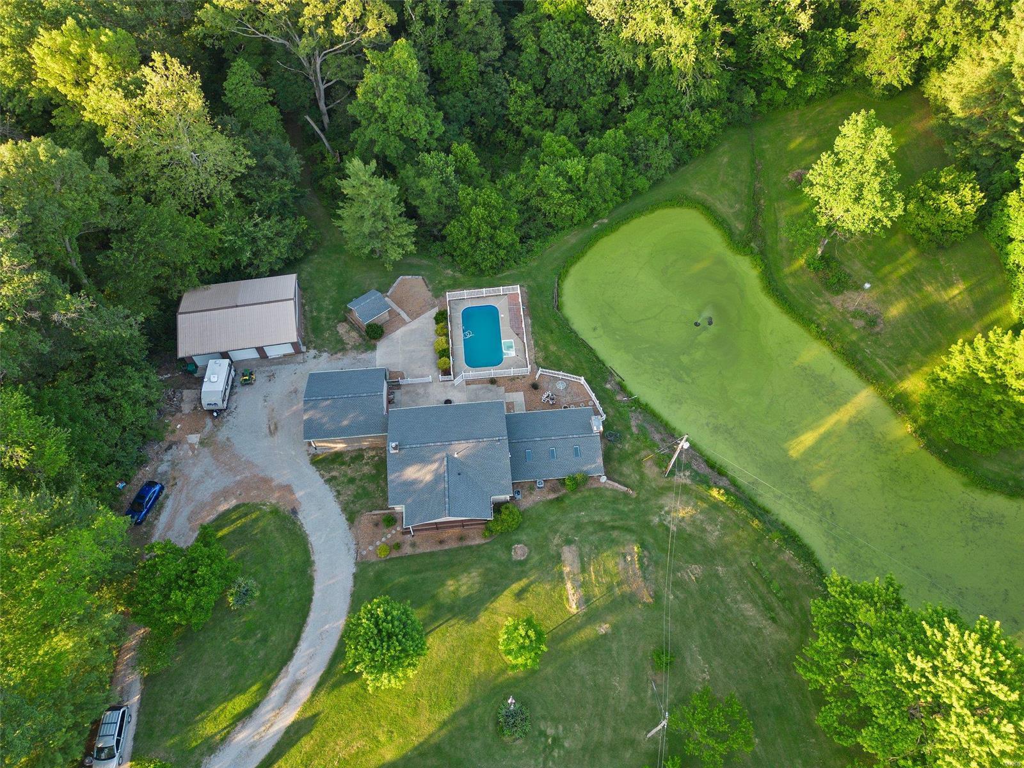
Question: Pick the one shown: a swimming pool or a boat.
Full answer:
Looking from above, you can make out a swimming pool.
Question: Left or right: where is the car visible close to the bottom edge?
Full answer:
The car visible close to the bottom edge sits on the left side.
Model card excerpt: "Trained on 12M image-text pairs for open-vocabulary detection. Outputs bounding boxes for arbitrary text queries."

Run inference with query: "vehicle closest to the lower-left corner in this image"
[92,710,138,768]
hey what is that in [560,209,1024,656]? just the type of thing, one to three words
pond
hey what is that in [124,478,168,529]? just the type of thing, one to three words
car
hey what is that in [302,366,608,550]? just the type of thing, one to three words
house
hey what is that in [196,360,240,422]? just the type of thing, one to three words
trailer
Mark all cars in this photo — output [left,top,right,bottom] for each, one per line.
[124,478,168,529]
[92,710,138,768]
